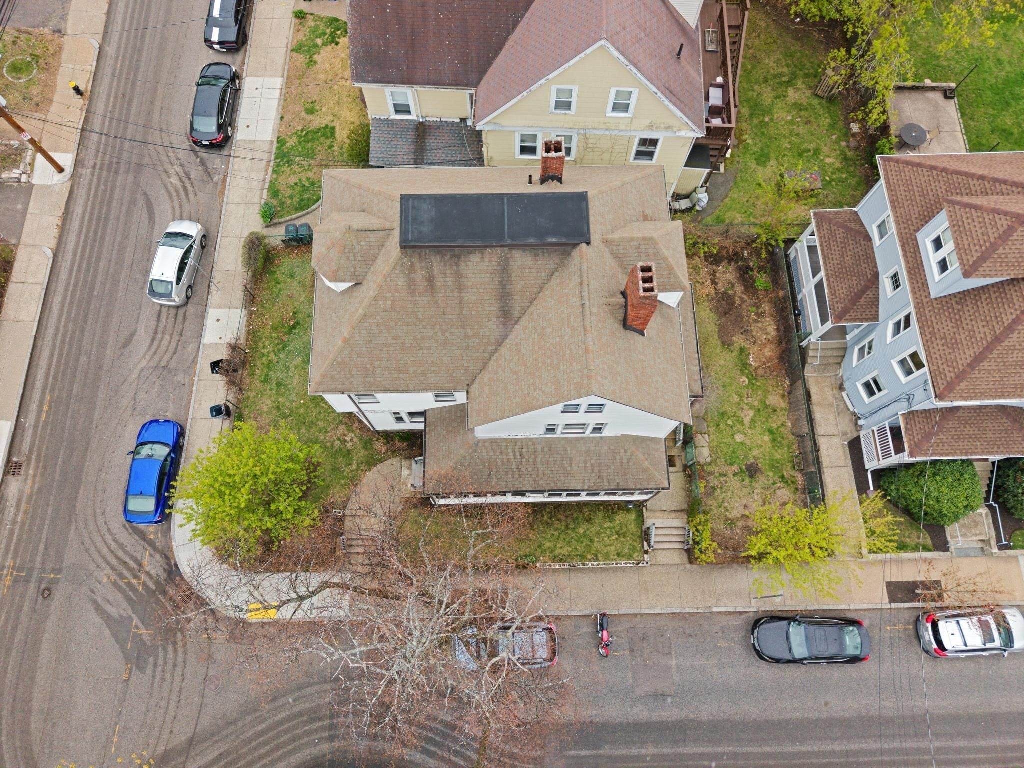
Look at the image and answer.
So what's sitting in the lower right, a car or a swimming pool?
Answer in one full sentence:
It is a car that can be seen in the lower right.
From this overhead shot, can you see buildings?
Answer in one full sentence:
Yes, there's a building here.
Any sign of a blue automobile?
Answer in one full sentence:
Yes, a blue automobile is visible in the scene.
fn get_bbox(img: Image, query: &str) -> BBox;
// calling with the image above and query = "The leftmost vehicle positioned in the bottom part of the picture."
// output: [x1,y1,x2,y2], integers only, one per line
[123,420,184,525]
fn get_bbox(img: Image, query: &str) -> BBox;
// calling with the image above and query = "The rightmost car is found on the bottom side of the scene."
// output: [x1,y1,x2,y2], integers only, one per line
[911,608,1024,659]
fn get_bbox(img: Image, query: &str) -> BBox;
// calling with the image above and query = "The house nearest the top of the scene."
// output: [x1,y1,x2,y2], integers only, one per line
[348,0,753,200]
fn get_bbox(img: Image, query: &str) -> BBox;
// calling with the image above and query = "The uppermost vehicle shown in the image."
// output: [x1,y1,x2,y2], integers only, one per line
[207,0,251,44]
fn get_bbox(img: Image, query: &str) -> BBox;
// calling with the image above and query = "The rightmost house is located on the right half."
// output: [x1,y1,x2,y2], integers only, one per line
[787,150,1024,491]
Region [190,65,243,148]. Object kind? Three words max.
car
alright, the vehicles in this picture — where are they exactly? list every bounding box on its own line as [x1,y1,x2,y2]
[751,616,874,667]
[207,0,251,44]
[123,420,184,525]
[911,608,1024,659]
[190,65,243,148]
[591,613,610,660]
[148,221,207,309]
